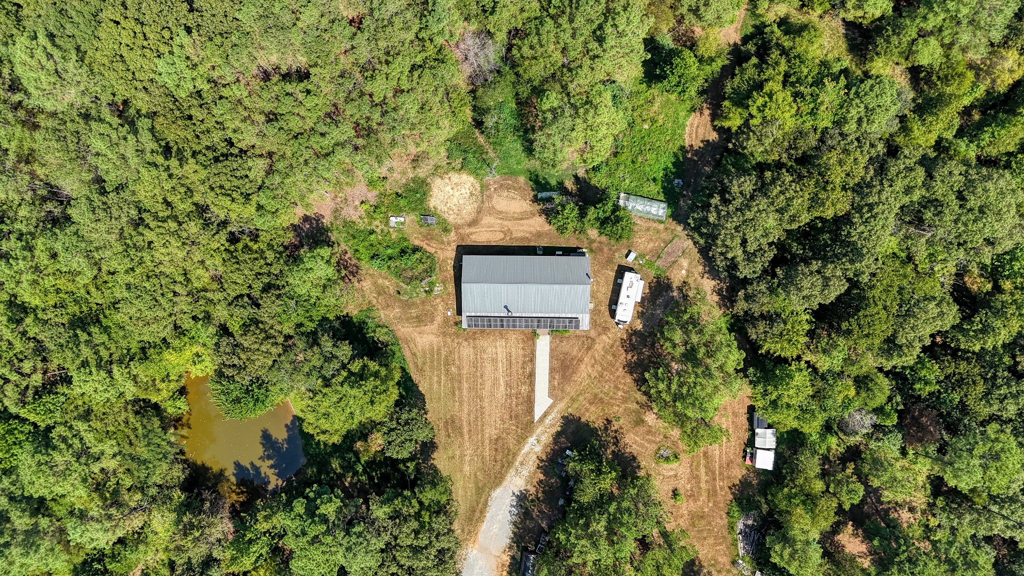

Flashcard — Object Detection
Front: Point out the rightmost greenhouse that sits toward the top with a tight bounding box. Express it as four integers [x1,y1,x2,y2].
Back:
[618,192,669,222]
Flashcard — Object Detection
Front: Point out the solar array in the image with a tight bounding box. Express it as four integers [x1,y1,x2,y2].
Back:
[467,318,580,330]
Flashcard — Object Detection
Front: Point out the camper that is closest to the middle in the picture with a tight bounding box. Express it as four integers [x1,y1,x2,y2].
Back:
[614,271,643,328]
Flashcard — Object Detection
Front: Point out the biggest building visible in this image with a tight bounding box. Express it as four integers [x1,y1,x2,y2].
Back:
[461,255,594,330]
